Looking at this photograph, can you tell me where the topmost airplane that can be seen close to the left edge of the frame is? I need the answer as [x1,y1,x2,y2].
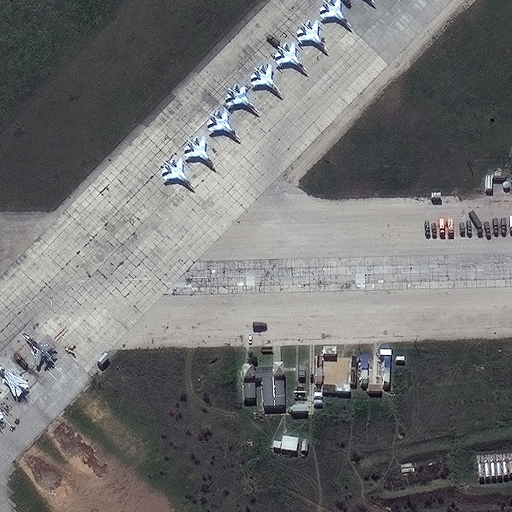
[25,336,60,371]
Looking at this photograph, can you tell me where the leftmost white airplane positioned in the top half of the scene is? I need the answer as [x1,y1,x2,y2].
[160,157,195,191]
